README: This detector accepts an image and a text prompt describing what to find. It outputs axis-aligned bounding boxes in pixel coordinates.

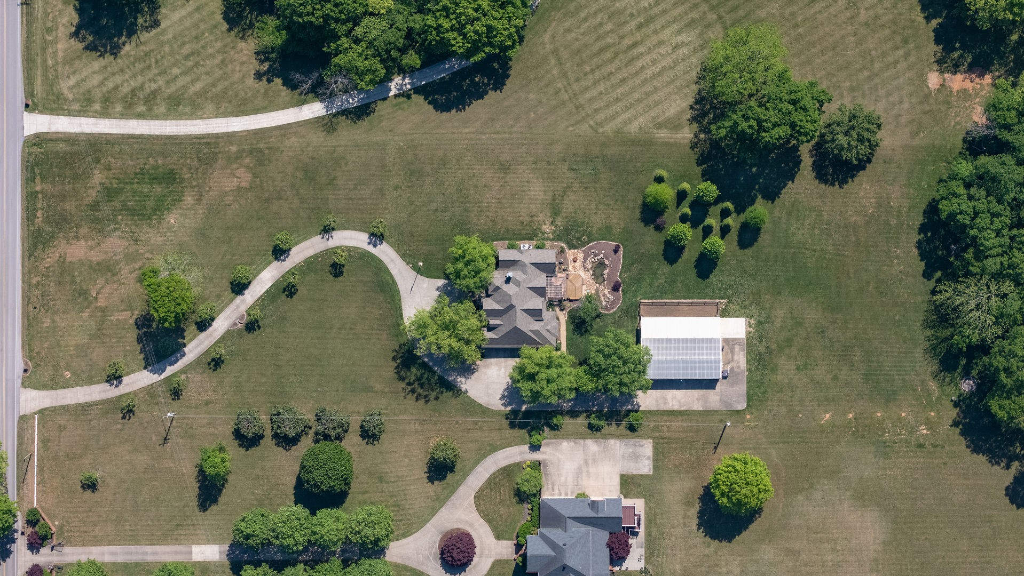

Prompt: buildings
[481,249,559,349]
[641,317,722,381]
[526,498,623,576]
